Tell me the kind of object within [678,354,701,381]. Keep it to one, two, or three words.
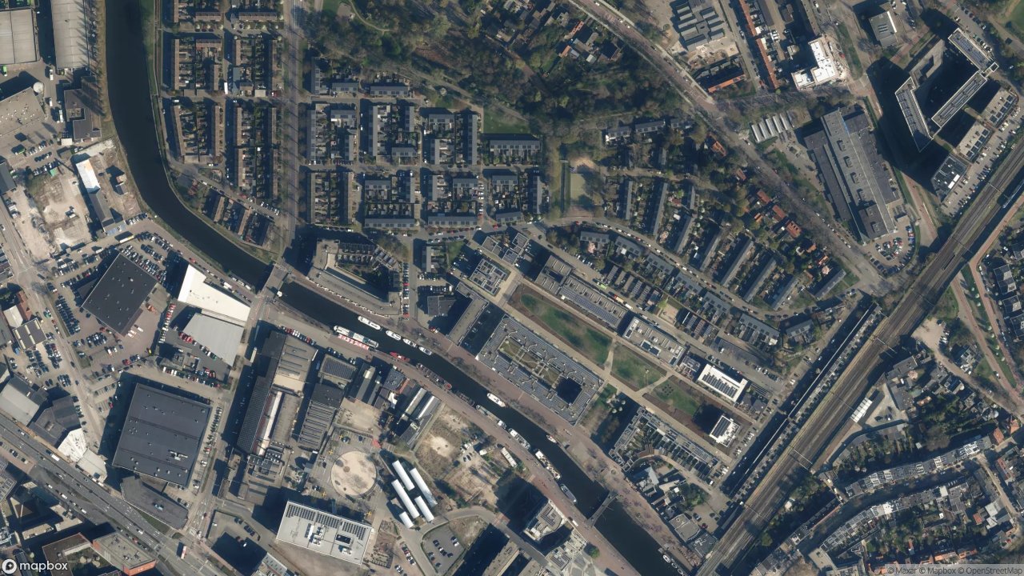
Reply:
greenhouse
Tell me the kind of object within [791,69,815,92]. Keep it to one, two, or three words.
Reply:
building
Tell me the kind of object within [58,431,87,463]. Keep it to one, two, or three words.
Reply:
shed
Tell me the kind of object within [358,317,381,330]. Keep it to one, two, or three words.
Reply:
boat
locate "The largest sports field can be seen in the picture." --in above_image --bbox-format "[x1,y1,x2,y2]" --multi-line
[571,174,602,209]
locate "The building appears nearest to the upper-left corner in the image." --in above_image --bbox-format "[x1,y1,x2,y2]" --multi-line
[0,8,38,66]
